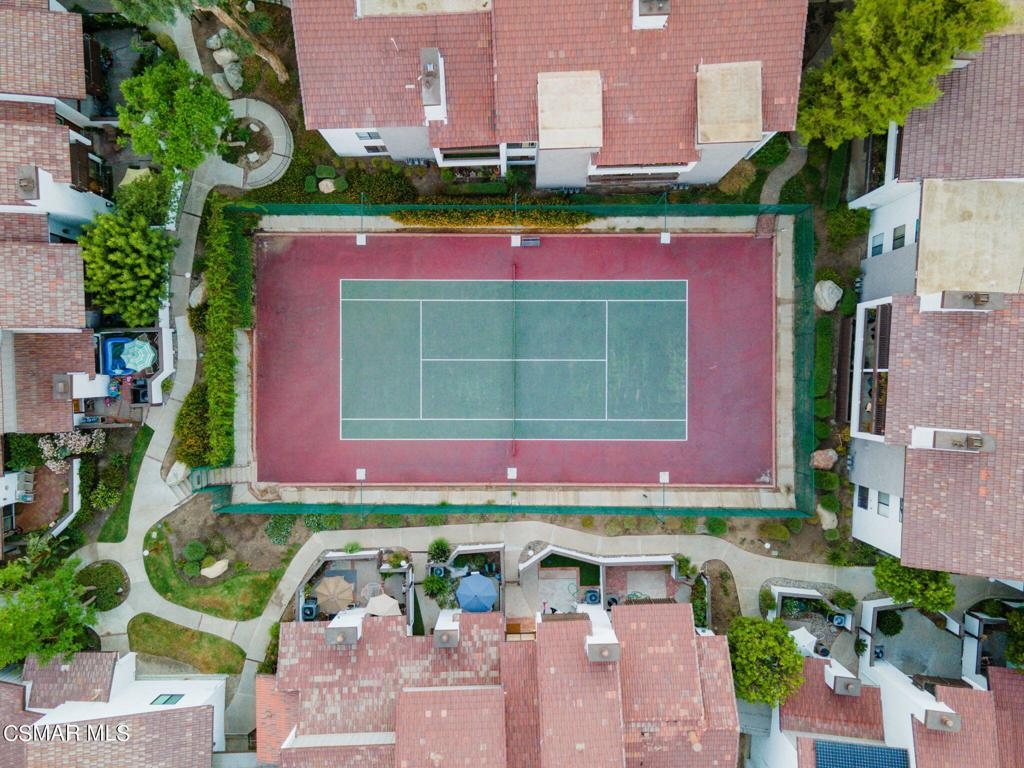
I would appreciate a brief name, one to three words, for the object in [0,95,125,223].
house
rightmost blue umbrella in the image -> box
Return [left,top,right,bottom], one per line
[457,573,496,611]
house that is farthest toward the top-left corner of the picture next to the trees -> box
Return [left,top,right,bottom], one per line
[0,0,126,114]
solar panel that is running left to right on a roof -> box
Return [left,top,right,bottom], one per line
[816,741,909,768]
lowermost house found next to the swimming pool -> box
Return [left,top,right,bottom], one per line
[0,331,107,473]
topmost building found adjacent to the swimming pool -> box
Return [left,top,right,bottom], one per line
[0,206,115,335]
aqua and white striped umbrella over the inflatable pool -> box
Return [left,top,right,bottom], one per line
[121,337,159,371]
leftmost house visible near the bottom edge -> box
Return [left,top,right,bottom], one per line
[0,646,233,768]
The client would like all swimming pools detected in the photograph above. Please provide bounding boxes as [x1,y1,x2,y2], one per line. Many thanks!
[105,339,135,374]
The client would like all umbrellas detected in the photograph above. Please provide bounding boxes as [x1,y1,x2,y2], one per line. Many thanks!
[785,624,822,657]
[367,589,397,616]
[121,337,159,371]
[457,573,496,611]
[316,575,355,614]
[120,160,159,191]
